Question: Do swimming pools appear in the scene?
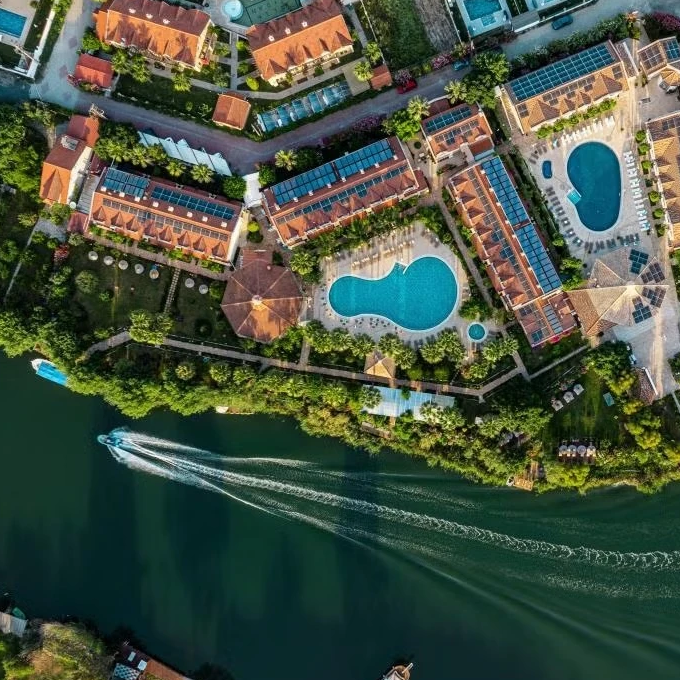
Yes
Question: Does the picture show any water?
Yes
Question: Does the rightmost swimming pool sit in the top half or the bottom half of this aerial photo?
top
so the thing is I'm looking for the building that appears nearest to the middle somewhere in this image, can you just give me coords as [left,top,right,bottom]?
[364,352,396,379]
